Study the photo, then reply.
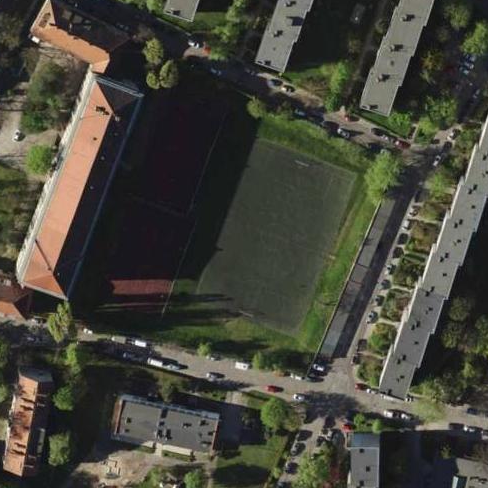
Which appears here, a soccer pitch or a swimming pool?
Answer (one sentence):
Of the two, only a soccer pitch appears.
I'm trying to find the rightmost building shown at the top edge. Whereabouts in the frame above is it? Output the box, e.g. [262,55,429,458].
[360,0,432,116]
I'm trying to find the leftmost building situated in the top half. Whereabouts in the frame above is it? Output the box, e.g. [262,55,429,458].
[21,70,145,300]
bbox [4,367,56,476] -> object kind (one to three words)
house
